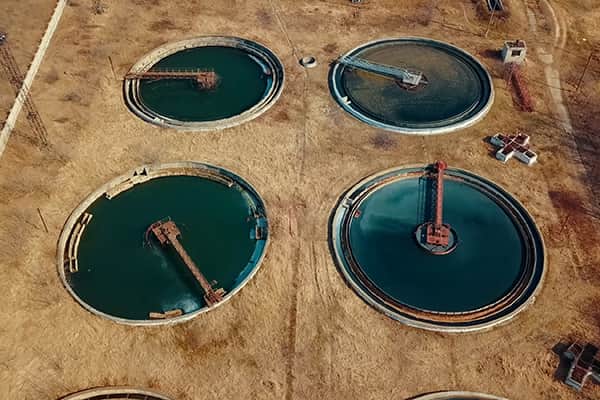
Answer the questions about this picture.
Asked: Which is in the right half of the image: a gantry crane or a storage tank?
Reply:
storage tank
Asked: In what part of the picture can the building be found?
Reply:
top right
